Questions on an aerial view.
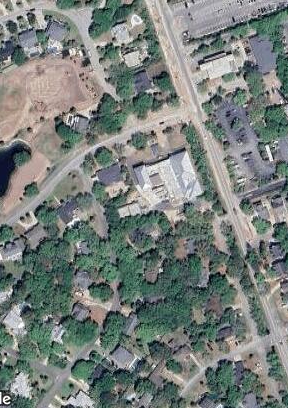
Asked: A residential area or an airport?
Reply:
residential area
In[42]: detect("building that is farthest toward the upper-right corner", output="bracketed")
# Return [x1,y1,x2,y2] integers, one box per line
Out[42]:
[248,36,279,74]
